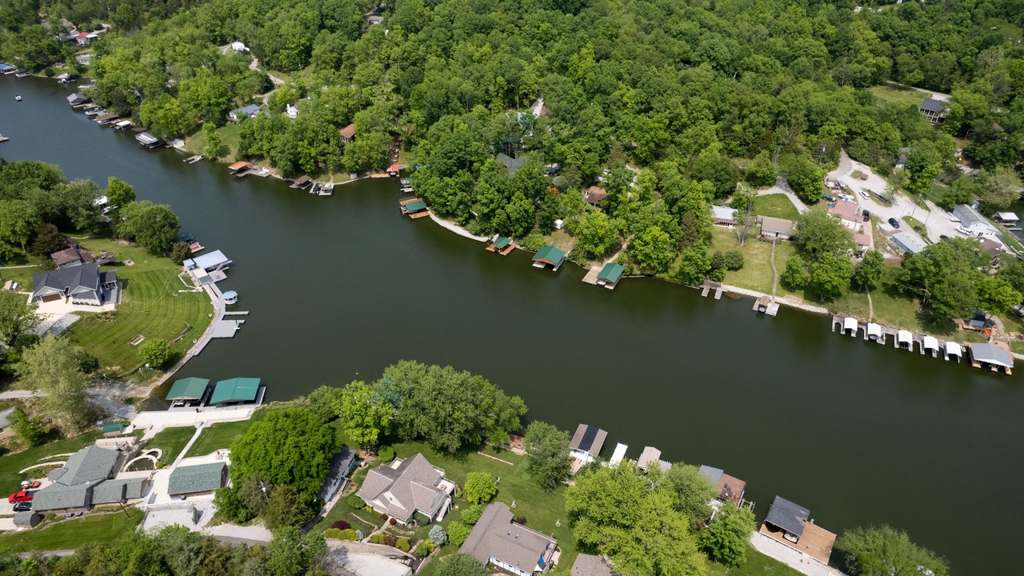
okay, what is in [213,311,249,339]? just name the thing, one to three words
pier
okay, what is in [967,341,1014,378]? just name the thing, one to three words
building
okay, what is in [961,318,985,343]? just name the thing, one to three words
shed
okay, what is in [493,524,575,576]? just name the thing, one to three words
house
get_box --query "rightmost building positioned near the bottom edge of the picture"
[762,496,836,561]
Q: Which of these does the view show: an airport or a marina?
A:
marina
